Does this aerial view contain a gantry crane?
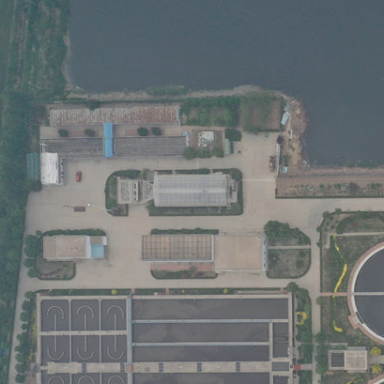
No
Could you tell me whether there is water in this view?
Yes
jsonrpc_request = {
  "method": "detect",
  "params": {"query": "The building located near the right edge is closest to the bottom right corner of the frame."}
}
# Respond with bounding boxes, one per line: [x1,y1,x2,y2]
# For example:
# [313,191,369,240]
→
[329,347,369,371]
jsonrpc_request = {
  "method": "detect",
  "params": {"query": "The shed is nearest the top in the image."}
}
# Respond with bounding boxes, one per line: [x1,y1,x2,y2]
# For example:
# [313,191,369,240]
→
[50,106,183,125]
